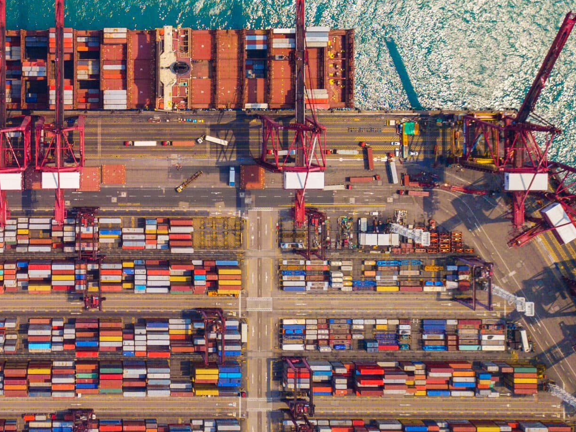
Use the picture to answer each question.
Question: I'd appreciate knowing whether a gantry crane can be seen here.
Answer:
Yes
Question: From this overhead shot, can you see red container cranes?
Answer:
Yes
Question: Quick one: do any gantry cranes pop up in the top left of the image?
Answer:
Yes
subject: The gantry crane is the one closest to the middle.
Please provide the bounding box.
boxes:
[292,207,325,265]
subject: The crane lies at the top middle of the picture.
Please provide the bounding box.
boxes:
[255,0,327,233]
